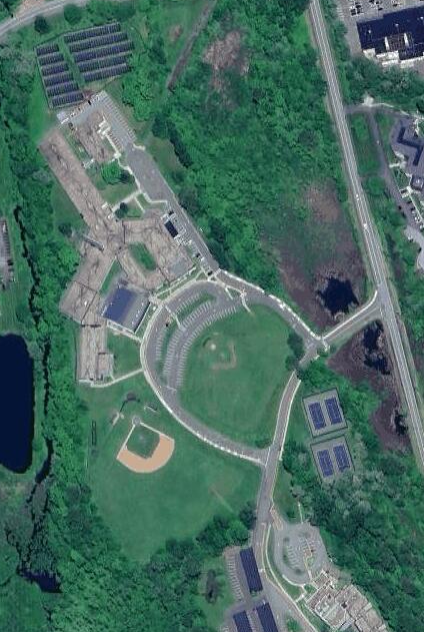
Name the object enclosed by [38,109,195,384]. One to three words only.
building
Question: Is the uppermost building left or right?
right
